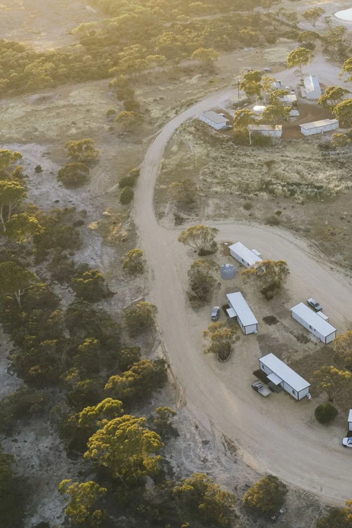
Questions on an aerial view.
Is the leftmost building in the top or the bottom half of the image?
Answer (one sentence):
The top half of the photo is where the leftmost building is.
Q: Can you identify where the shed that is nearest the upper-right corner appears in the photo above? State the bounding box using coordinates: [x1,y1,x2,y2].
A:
[303,75,321,97]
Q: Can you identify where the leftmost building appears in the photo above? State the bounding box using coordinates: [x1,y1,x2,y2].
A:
[200,111,229,130]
